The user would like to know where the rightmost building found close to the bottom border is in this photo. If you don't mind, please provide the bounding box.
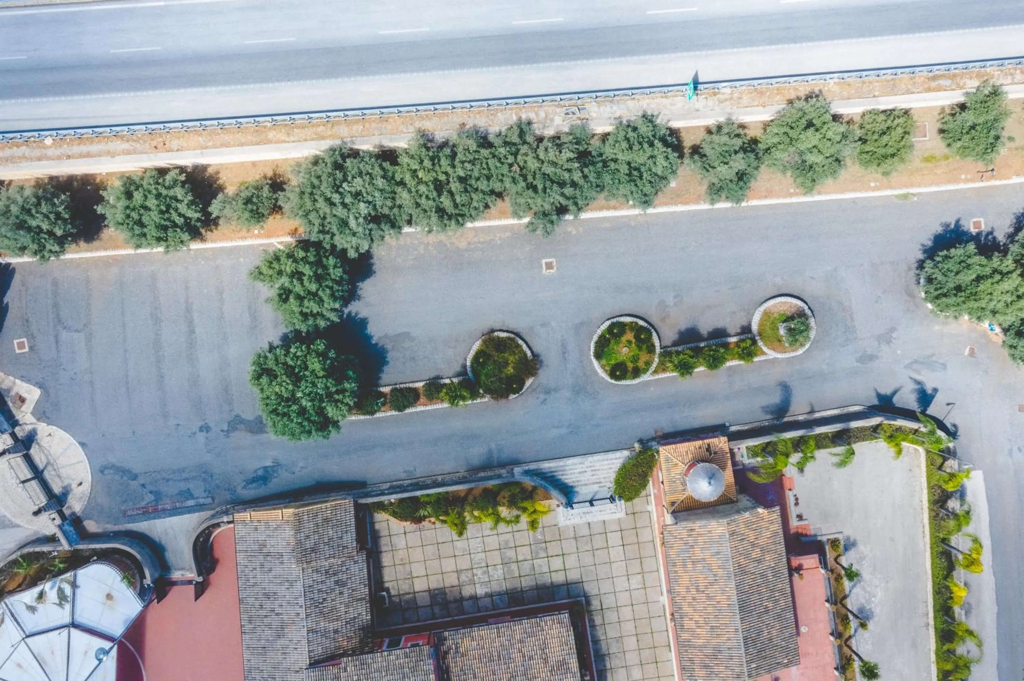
[660,487,804,681]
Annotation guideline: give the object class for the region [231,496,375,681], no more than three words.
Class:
house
